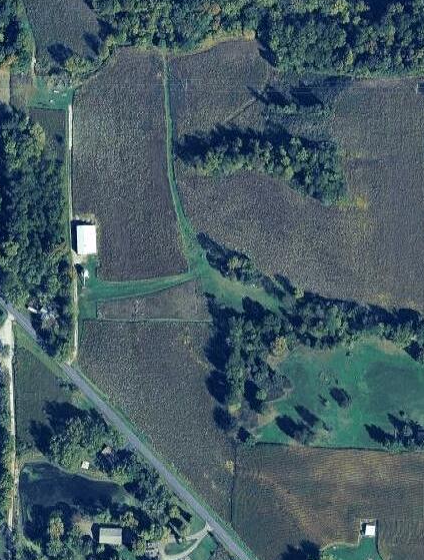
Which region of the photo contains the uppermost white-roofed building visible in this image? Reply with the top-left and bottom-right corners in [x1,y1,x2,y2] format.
[76,226,96,254]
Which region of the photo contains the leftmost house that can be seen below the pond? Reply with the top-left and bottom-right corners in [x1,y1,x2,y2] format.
[98,528,121,543]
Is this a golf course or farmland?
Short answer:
farmland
